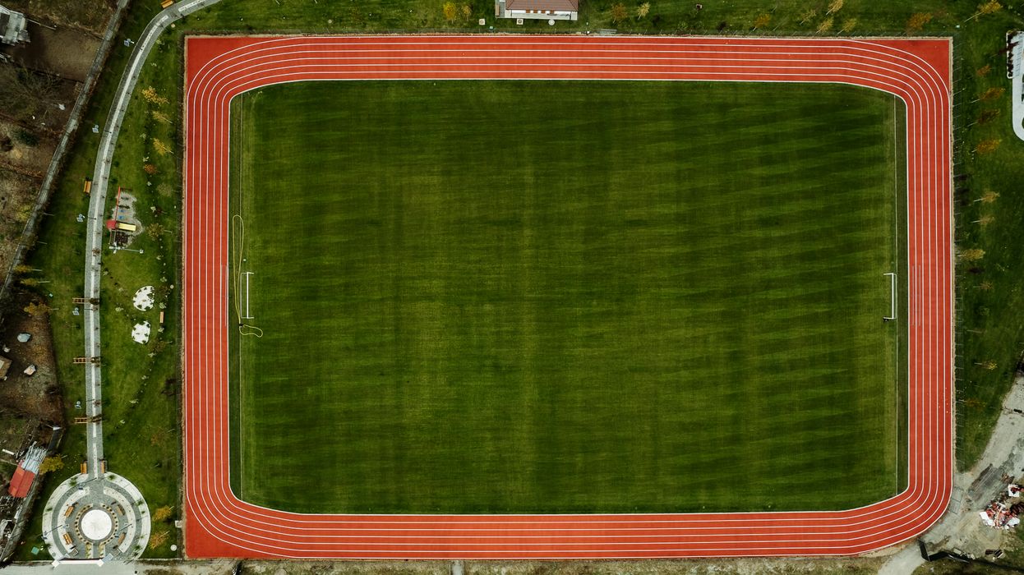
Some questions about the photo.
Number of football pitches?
1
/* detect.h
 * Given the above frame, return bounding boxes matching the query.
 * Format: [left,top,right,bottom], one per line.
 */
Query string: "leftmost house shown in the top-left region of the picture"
[0,9,43,54]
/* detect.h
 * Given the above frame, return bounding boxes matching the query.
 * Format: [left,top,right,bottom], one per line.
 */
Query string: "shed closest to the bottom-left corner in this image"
[8,463,37,498]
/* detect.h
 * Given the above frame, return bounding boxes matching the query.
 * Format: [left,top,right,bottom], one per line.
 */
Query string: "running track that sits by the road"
[185,35,954,560]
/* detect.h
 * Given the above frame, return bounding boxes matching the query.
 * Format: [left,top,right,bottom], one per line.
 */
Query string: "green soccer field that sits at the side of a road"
[230,80,908,515]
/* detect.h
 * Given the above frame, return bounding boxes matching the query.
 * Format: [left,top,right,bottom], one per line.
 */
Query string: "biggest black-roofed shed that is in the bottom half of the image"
[47,426,70,455]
